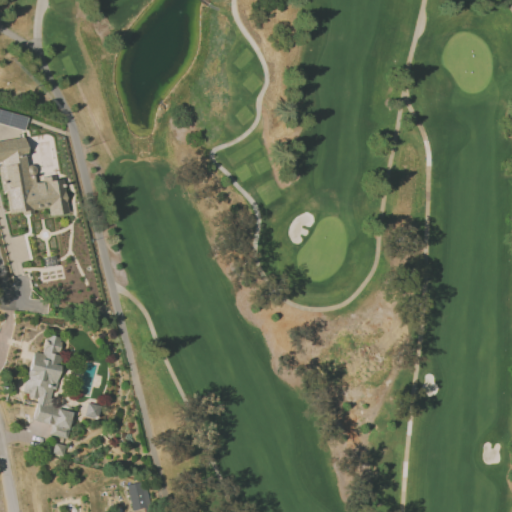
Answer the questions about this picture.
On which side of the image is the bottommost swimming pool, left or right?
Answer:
left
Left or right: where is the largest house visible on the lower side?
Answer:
left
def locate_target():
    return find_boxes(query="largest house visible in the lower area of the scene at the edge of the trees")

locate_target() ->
[16,335,78,440]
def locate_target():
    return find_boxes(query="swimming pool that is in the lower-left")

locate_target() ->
[82,362,102,396]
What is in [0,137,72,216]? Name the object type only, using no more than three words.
house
